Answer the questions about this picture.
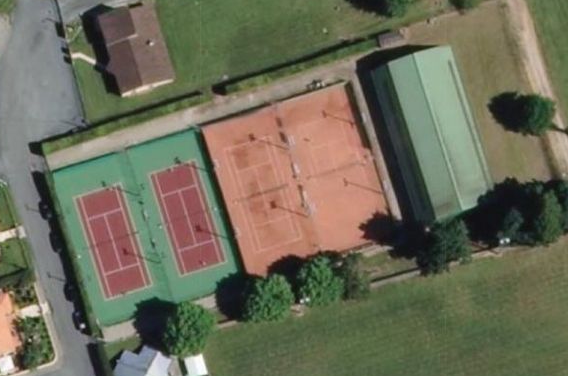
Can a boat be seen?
No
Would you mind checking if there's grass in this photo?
Yes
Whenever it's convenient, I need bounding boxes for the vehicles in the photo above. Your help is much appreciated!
[40,202,51,221]
[65,284,77,304]
[51,233,63,253]
[74,311,86,331]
